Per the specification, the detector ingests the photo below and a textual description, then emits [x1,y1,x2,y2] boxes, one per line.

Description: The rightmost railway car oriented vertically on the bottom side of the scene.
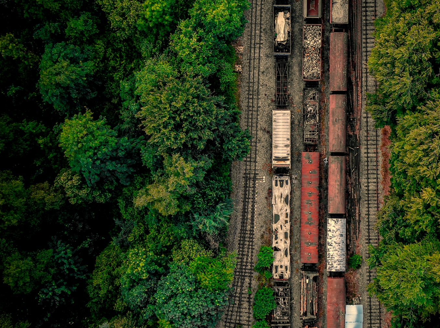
[300,267,317,322]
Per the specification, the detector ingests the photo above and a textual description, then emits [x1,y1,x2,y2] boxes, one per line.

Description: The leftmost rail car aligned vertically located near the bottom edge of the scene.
[272,282,289,322]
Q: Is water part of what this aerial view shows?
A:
No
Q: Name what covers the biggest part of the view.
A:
trees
